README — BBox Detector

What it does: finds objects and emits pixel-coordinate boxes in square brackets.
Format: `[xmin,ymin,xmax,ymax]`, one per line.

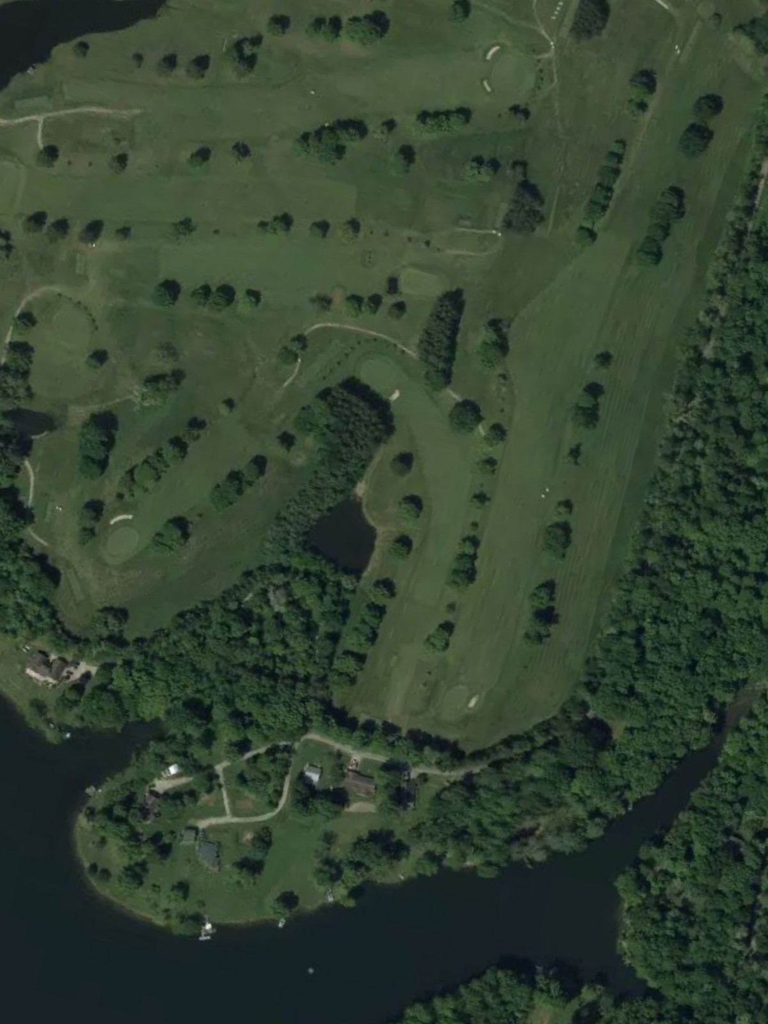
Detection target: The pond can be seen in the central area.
[304,500,372,573]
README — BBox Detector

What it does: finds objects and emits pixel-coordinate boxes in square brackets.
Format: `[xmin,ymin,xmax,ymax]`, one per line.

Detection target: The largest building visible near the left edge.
[30,653,66,683]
